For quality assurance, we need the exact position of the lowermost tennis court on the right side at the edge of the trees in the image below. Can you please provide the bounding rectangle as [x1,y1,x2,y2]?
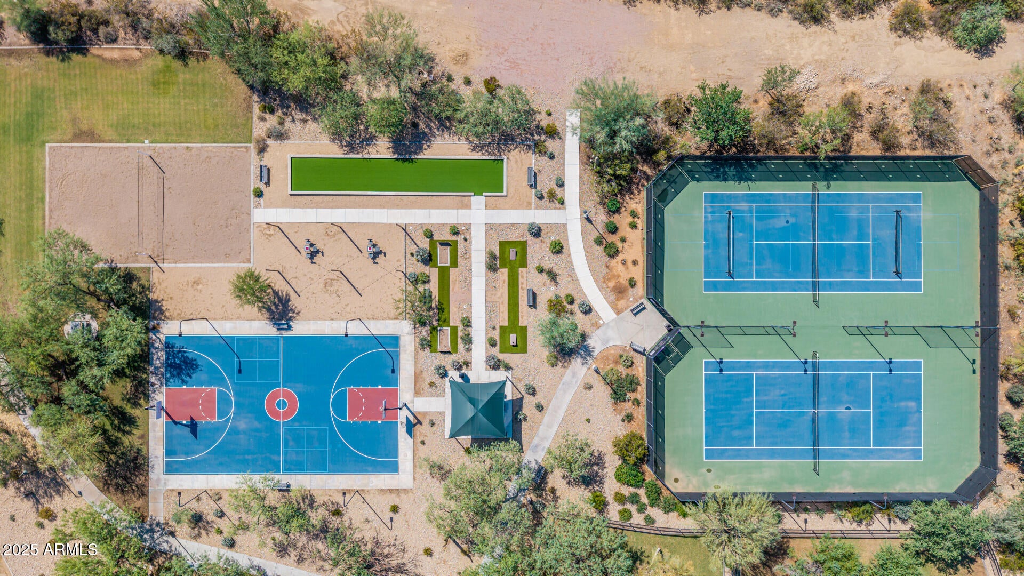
[703,360,923,461]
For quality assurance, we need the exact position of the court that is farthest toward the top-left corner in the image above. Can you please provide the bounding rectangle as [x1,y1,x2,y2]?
[45,144,254,267]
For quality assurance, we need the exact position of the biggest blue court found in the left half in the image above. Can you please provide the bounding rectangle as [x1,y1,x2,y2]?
[164,335,399,474]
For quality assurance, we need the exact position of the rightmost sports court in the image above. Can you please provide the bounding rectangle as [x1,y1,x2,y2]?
[835,214,959,271]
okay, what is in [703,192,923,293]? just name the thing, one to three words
tennis court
